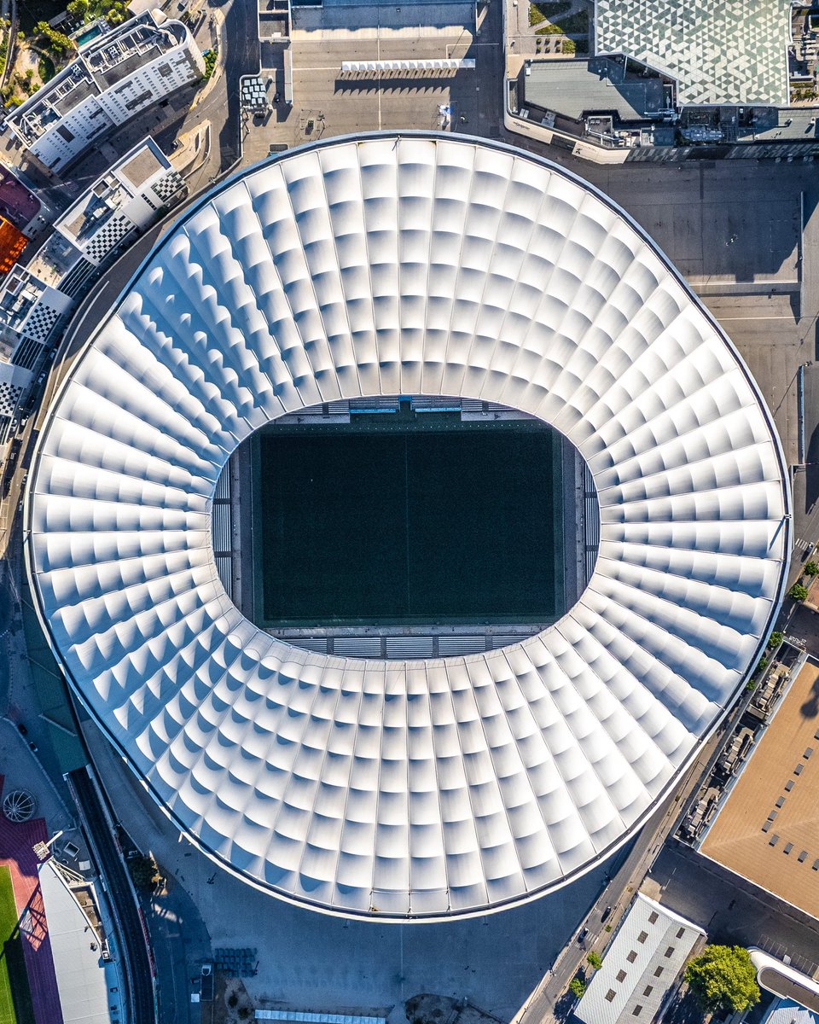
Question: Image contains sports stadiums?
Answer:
Yes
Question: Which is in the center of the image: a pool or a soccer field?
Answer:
soccer field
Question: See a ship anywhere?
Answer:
No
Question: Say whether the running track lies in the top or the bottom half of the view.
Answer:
bottom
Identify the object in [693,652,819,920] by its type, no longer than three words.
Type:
building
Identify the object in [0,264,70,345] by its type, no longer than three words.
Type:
building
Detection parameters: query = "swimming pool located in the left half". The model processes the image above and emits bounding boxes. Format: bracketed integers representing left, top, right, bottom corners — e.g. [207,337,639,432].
[72,17,109,51]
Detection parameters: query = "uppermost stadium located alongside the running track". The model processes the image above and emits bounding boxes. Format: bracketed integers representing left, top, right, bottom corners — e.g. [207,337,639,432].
[22,128,796,926]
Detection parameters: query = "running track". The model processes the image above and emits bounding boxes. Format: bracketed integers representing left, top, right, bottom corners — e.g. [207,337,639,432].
[0,772,64,1024]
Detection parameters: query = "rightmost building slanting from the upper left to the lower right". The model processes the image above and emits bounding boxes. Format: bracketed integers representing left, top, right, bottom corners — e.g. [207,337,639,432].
[745,945,819,1014]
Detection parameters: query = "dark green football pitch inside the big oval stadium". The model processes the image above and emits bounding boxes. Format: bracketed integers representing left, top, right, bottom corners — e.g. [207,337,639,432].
[242,406,578,640]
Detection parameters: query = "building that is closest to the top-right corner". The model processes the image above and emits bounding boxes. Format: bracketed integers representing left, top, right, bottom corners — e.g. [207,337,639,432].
[500,0,819,164]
